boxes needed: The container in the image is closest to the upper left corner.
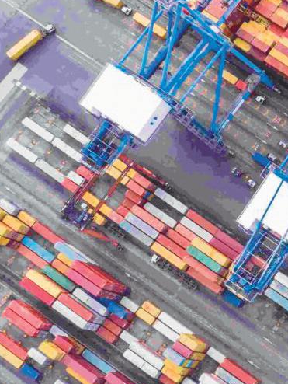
[11,30,46,65]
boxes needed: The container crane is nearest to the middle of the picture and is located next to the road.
[54,147,167,242]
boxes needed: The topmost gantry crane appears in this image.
[58,0,281,190]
